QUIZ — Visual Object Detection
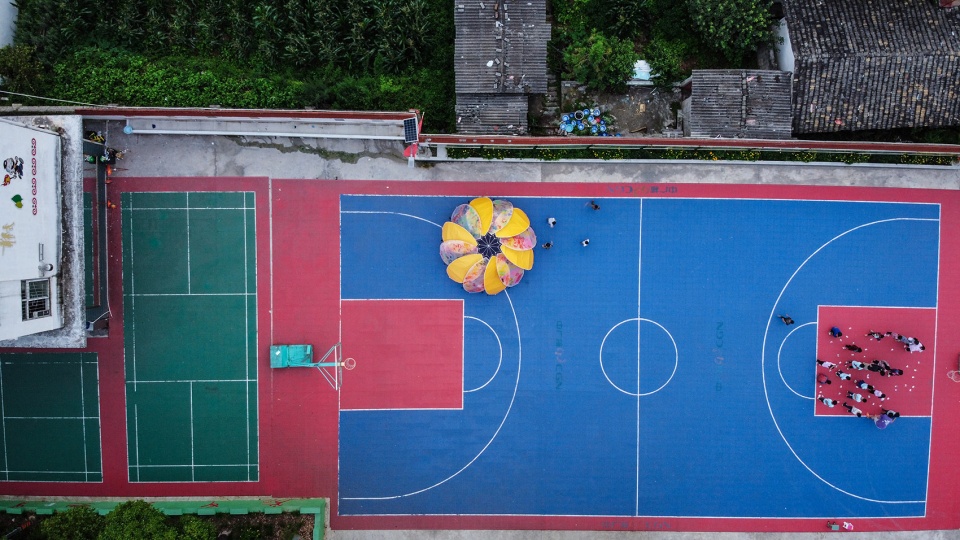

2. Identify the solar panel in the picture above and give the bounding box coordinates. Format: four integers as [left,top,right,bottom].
[405,118,417,141]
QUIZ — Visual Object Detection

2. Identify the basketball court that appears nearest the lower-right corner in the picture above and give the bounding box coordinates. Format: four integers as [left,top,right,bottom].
[272,179,960,532]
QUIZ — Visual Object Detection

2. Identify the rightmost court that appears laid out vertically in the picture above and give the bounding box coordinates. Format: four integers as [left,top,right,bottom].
[121,191,259,483]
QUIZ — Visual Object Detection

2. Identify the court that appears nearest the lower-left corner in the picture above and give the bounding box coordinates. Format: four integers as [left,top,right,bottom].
[0,352,103,483]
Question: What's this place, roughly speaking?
sports ground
